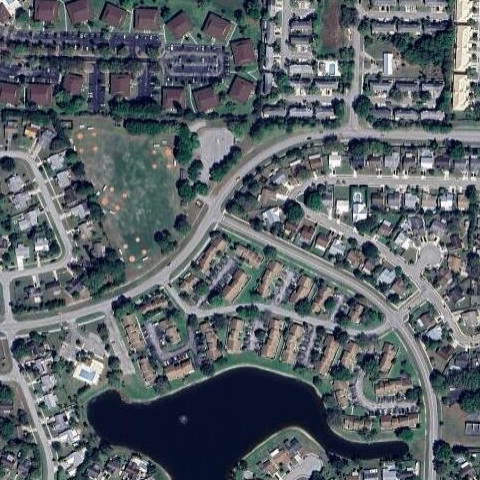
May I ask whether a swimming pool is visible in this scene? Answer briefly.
Yes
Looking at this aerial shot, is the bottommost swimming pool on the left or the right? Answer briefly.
left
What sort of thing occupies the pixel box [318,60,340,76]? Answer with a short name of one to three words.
swimming pool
